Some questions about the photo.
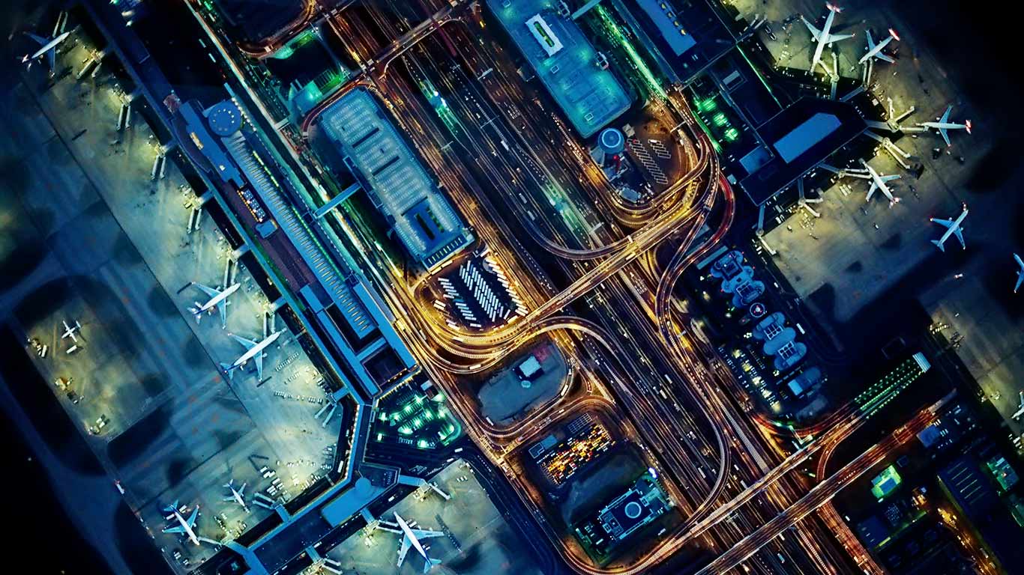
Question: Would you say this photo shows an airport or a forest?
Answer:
airport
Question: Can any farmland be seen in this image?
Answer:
No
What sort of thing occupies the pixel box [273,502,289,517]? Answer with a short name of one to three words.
jet bridge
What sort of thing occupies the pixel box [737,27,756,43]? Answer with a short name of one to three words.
jet bridge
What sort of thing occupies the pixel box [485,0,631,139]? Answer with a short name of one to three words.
building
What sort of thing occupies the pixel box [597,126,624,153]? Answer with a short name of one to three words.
building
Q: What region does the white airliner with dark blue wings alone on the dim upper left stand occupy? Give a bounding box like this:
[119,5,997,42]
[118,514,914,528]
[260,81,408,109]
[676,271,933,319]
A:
[15,29,70,70]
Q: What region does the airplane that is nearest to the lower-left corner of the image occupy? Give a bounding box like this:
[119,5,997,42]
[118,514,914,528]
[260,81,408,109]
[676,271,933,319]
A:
[158,500,198,545]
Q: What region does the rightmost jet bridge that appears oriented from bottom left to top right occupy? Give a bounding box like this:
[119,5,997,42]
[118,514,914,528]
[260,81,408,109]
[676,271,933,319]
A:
[894,103,917,122]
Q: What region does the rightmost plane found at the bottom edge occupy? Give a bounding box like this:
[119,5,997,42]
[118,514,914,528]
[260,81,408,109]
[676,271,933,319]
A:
[393,513,445,575]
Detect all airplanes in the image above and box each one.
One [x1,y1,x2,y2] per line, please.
[861,25,901,62]
[222,480,247,511]
[218,330,282,382]
[61,321,79,340]
[184,278,239,328]
[867,163,905,207]
[393,513,445,575]
[931,206,969,252]
[158,500,198,545]
[802,0,856,72]
[918,104,973,145]
[15,29,70,70]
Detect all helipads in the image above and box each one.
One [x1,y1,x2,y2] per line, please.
[627,504,640,517]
